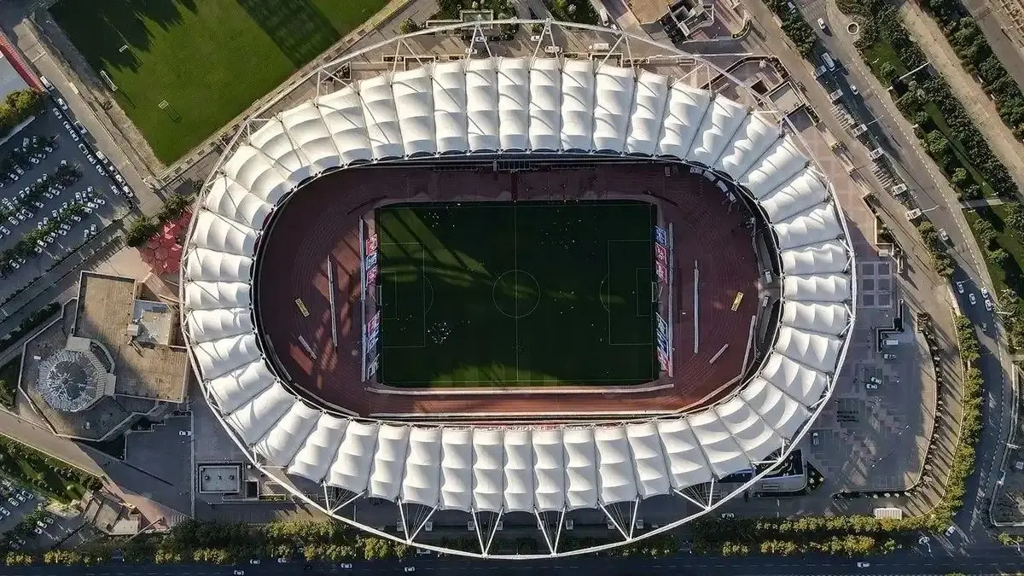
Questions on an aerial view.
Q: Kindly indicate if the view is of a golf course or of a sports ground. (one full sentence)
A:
This image shows a sports ground.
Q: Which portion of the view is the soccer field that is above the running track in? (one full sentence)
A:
The soccer field that is above the running track is in the top left part of the image.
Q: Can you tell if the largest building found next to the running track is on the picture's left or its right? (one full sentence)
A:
The largest building found next to the running track appears in the left half of the scene.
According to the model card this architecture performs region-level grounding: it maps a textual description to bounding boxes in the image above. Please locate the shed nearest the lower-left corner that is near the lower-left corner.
[46,500,86,518]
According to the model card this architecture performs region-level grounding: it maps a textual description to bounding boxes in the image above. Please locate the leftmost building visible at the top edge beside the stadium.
[462,10,492,30]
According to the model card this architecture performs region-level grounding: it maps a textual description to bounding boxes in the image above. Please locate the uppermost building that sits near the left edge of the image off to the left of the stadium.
[0,32,48,108]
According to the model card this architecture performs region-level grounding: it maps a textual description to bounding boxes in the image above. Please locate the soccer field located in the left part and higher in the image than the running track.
[49,0,388,164]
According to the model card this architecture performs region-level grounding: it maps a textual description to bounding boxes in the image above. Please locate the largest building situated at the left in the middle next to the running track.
[69,270,195,404]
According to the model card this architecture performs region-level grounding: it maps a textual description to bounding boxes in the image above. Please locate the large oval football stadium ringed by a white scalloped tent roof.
[178,18,856,558]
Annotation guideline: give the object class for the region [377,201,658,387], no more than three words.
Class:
soccer field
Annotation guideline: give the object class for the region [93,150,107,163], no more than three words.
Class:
vehicle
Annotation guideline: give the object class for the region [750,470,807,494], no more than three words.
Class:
building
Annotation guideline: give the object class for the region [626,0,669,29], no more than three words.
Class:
building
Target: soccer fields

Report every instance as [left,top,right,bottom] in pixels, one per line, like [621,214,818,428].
[377,201,658,387]
[49,0,388,164]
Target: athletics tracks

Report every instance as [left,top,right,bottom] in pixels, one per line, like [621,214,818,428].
[257,158,764,421]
